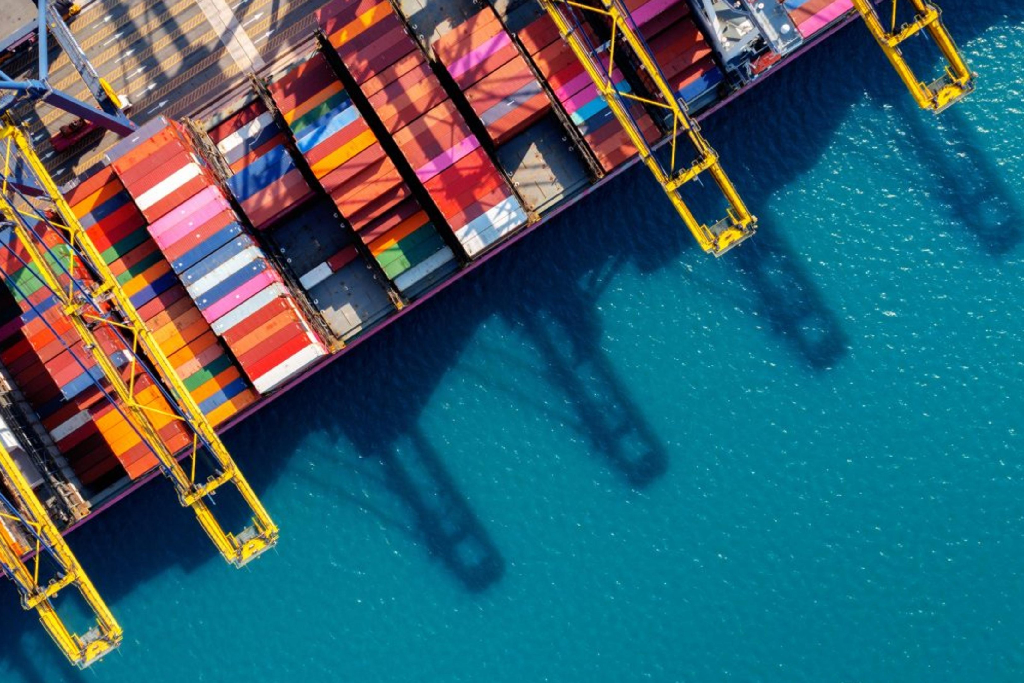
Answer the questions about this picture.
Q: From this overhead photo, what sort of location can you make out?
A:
port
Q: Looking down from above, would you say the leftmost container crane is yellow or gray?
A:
yellow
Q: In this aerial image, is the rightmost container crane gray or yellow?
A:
yellow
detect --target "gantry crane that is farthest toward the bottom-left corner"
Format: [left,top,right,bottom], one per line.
[0,448,125,672]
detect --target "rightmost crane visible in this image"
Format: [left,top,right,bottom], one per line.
[850,0,974,122]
